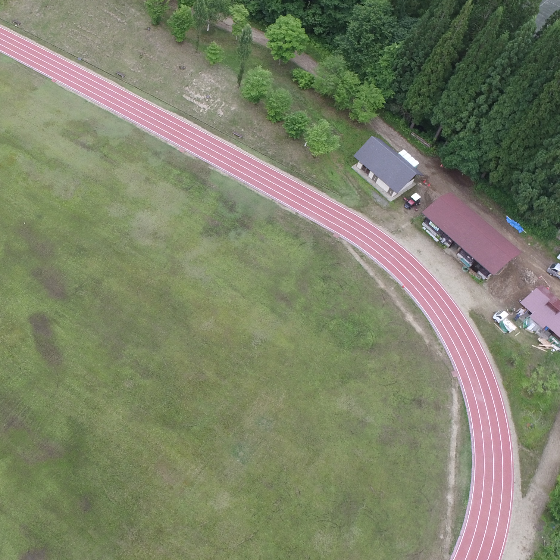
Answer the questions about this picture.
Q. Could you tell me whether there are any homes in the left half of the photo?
No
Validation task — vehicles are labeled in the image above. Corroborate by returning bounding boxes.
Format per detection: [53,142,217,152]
[399,192,421,214]
[545,264,560,284]
[492,308,518,332]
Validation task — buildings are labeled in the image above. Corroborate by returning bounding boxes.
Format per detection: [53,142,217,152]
[351,138,424,204]
[508,286,560,362]
[419,194,522,280]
